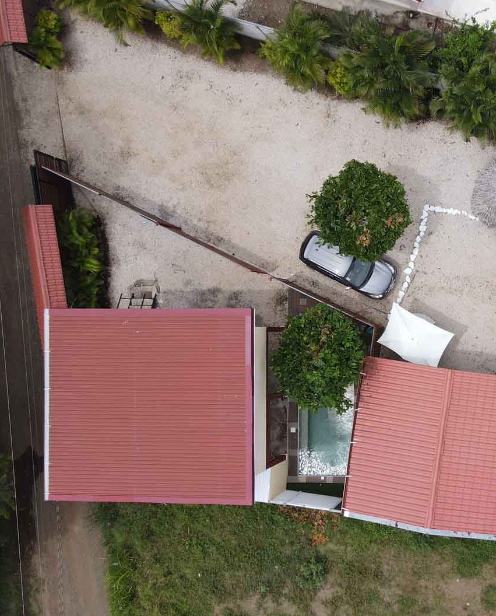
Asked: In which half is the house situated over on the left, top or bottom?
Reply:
bottom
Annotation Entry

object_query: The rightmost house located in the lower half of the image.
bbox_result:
[336,358,496,535]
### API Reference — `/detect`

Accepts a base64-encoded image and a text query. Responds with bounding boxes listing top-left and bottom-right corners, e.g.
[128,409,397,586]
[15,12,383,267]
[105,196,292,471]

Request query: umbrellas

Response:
[378,302,453,367]
[467,158,496,236]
